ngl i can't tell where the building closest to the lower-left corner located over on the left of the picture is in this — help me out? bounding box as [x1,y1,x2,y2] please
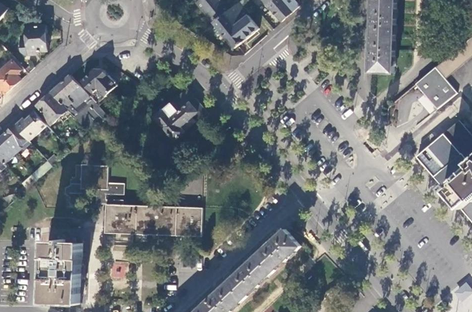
[34,241,84,306]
